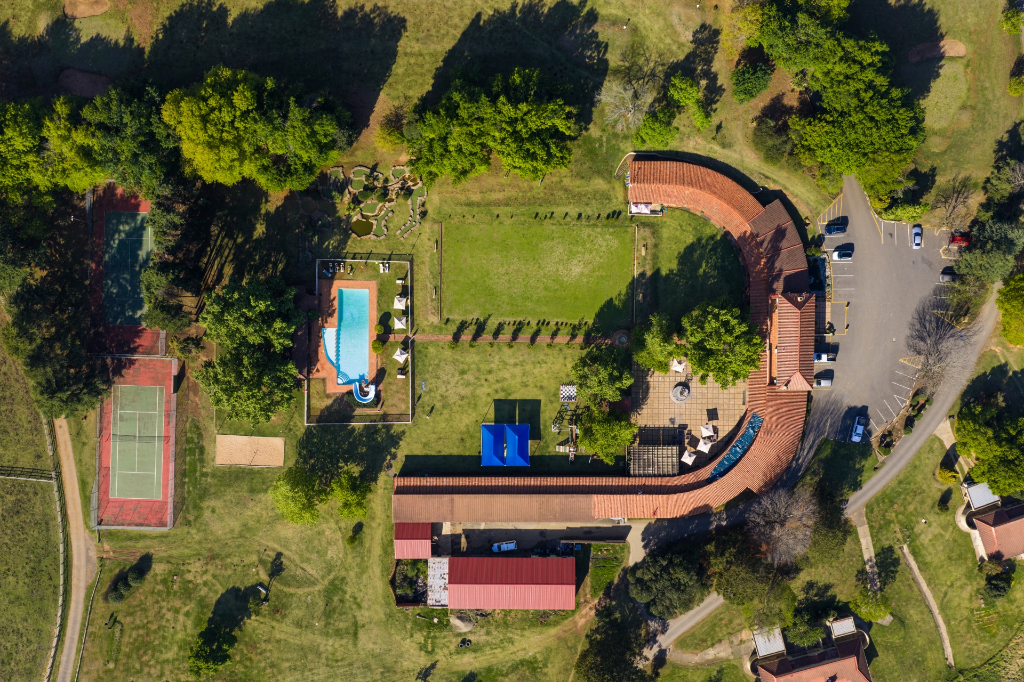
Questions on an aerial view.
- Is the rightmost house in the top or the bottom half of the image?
bottom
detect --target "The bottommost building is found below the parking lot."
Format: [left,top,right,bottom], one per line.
[738,605,870,682]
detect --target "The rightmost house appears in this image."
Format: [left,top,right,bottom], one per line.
[948,472,1024,559]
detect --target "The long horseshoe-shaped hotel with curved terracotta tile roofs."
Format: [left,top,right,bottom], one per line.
[393,161,816,522]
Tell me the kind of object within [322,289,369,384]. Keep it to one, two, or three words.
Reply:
swimming pool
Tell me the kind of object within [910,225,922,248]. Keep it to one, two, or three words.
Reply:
vehicle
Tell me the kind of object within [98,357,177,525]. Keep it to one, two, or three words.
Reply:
tennis court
